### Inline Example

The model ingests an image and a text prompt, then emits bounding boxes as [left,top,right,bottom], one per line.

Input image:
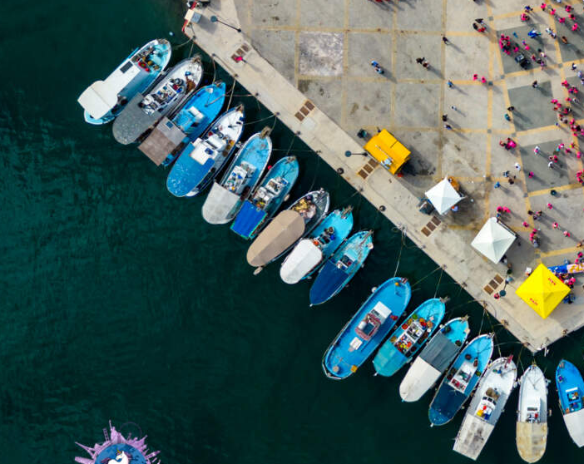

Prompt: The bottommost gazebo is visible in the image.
[516,260,571,318]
